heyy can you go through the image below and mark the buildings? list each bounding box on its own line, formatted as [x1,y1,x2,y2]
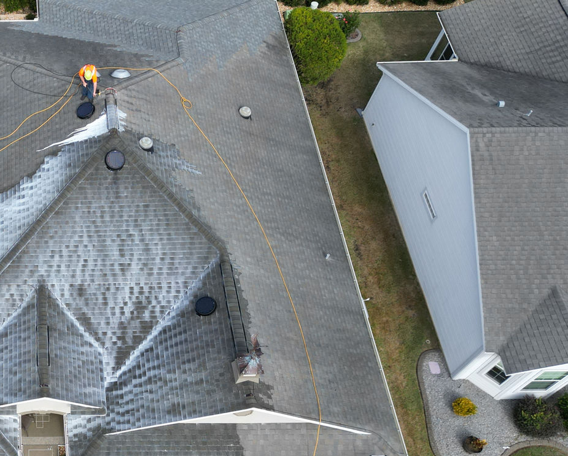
[0,0,409,456]
[357,0,568,398]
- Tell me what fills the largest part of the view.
buildings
